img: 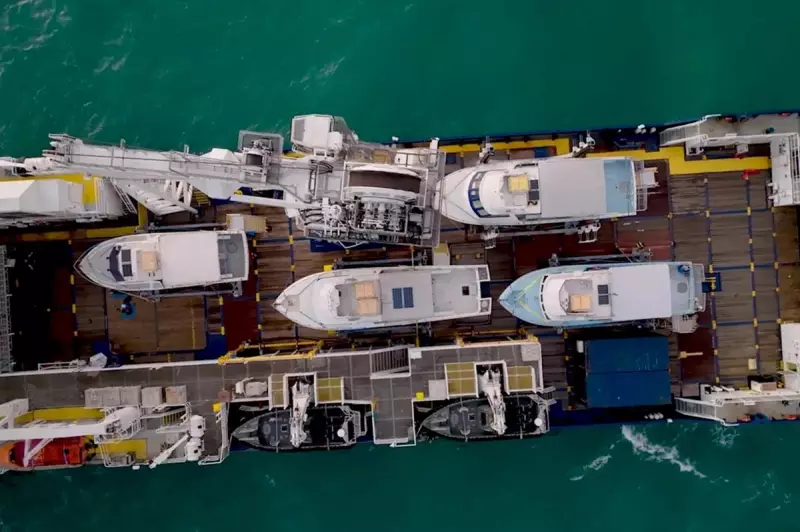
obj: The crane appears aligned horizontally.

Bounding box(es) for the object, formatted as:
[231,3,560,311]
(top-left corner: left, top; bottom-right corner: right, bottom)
[0,113,448,252]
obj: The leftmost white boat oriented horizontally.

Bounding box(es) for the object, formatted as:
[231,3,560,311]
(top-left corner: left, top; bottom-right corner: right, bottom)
[70,230,255,300]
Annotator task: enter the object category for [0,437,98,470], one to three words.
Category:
boat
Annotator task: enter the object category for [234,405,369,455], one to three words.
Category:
boat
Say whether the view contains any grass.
No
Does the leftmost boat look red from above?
Yes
